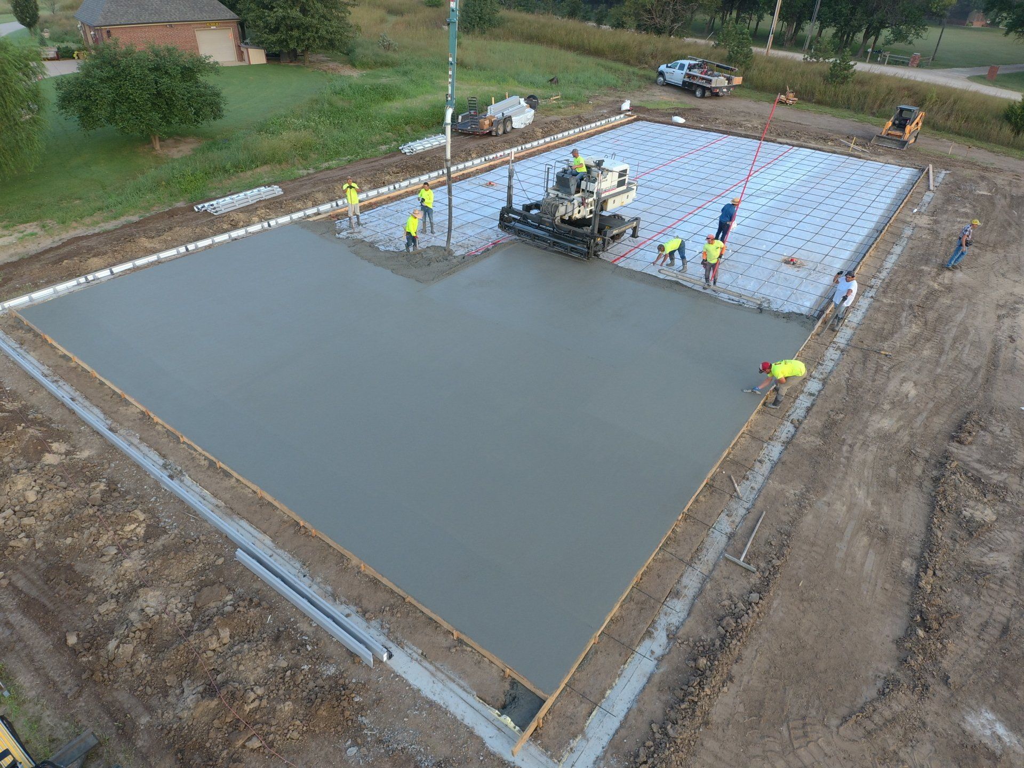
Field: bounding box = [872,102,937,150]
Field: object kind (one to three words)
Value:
work vehicle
